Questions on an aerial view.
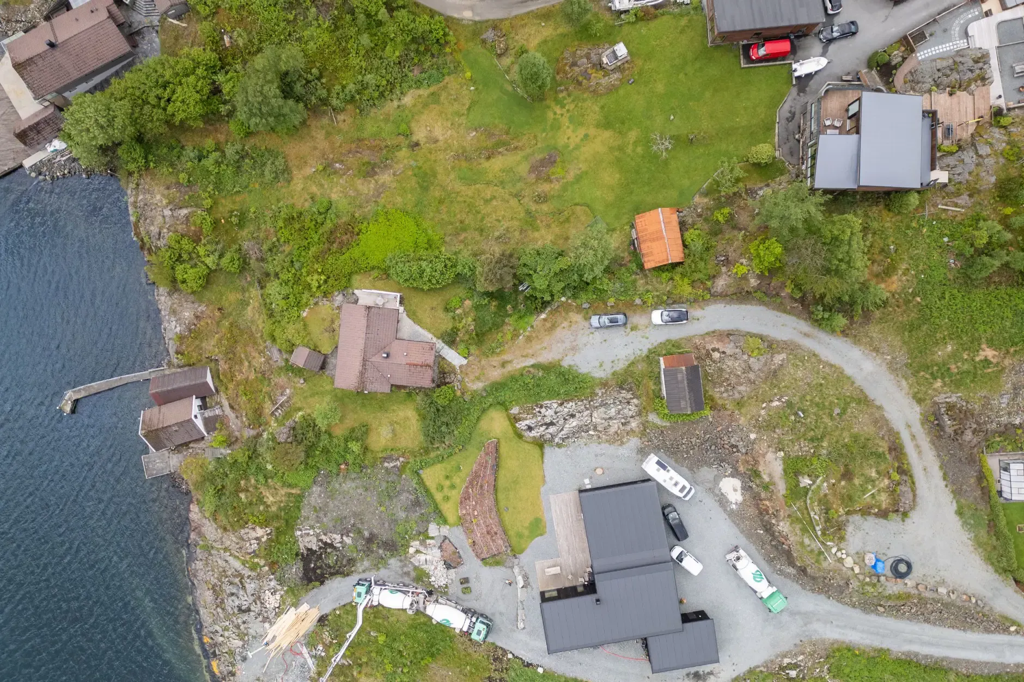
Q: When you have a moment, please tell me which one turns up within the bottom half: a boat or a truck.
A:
truck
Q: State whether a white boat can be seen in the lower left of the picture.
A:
No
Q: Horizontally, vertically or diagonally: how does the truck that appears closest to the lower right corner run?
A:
diagonally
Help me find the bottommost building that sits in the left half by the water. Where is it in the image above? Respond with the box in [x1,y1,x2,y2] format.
[141,397,211,453]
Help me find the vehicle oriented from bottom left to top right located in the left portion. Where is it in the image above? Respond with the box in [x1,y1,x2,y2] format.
[317,574,435,682]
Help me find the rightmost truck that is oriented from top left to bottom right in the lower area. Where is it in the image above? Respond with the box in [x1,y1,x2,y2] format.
[725,546,792,617]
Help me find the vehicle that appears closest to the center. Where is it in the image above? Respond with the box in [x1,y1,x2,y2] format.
[589,311,628,329]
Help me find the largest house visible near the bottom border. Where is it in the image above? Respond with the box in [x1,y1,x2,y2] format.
[539,479,720,674]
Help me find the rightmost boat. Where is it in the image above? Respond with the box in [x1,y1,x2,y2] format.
[789,55,834,79]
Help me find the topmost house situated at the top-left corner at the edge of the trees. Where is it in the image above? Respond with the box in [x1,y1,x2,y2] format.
[146,0,203,40]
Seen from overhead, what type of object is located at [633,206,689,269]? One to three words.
shed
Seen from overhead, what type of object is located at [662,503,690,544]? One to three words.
van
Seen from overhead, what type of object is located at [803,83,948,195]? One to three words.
house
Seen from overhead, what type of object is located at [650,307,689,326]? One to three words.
car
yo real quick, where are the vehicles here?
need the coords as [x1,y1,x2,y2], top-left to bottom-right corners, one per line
[640,453,691,499]
[671,544,704,579]
[589,311,628,329]
[423,593,497,645]
[748,38,794,62]
[816,20,860,45]
[317,574,435,682]
[650,307,689,326]
[662,503,690,544]
[725,546,792,617]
